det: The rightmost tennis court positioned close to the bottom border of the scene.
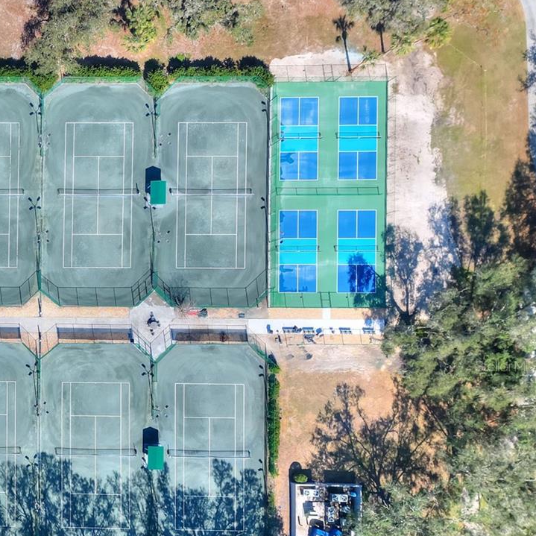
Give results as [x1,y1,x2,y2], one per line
[151,344,266,536]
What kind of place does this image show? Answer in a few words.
sports ground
